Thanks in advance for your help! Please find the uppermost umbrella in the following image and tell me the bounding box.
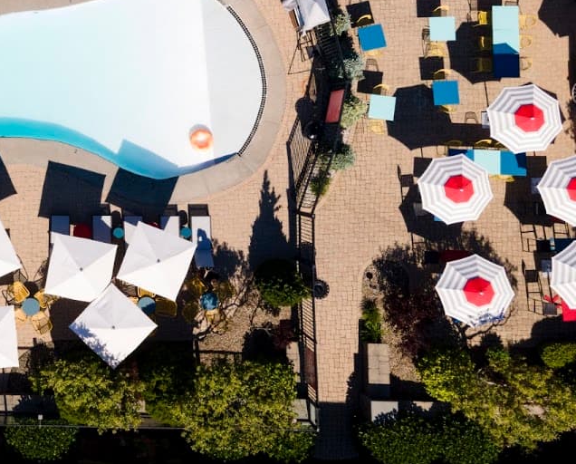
[476,82,561,156]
